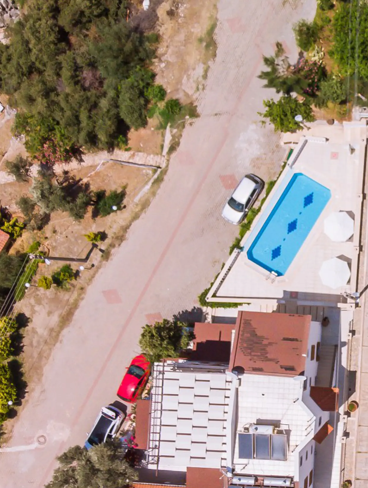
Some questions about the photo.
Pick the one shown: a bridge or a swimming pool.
swimming pool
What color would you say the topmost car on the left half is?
red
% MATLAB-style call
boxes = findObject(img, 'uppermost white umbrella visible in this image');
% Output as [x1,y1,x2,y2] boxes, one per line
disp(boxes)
[324,212,355,242]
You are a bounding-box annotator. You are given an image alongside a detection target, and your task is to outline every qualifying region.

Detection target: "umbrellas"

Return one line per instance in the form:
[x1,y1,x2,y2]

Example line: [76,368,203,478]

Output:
[324,212,355,242]
[319,256,351,290]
